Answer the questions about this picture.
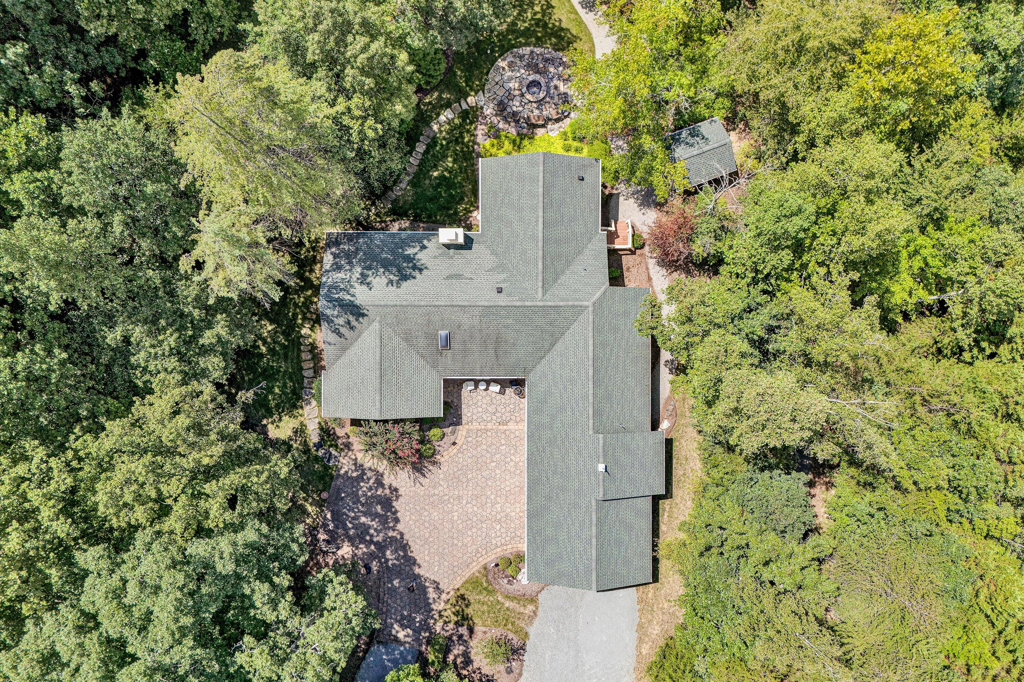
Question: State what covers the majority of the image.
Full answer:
For the most part, this view shows trees.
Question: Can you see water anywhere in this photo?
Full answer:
No, water can't be seen anywhere here.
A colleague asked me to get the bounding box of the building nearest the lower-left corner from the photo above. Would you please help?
[319,152,666,592]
